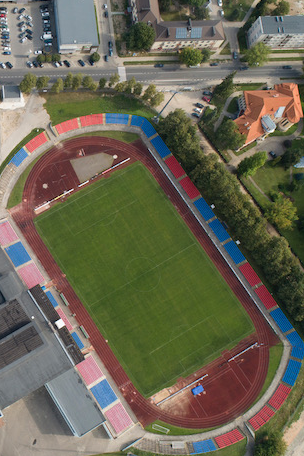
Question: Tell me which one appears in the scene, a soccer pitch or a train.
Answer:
soccer pitch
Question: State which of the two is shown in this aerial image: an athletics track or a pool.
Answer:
athletics track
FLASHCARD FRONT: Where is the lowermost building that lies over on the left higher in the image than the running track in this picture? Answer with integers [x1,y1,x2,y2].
[1,85,23,103]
